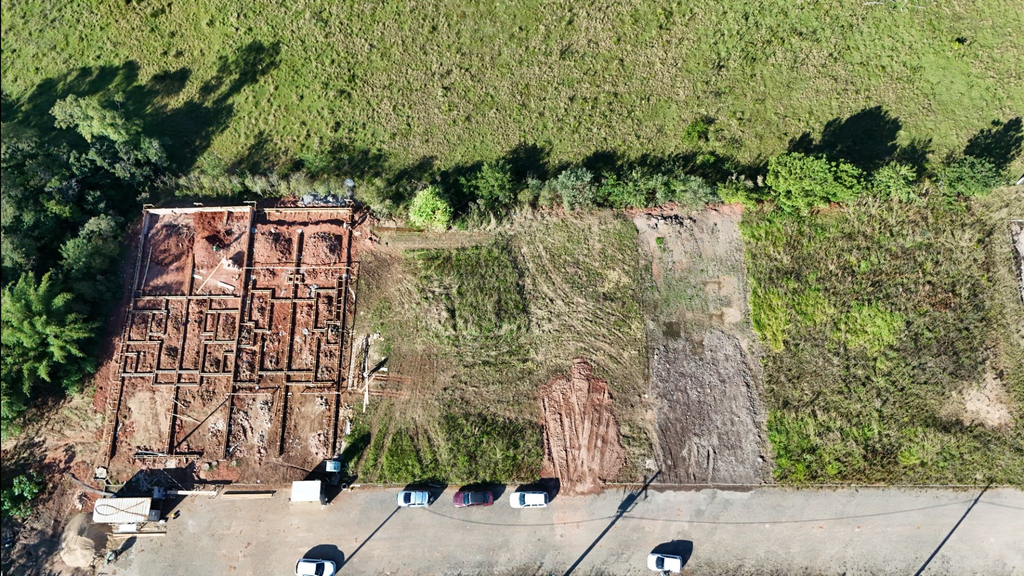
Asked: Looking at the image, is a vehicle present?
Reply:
Yes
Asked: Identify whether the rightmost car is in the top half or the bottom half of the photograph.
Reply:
bottom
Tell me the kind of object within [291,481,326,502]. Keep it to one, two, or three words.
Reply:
shed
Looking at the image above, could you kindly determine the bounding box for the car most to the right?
[647,554,683,576]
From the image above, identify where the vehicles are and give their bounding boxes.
[647,554,683,576]
[454,490,494,507]
[295,558,338,576]
[396,490,433,507]
[509,491,548,508]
